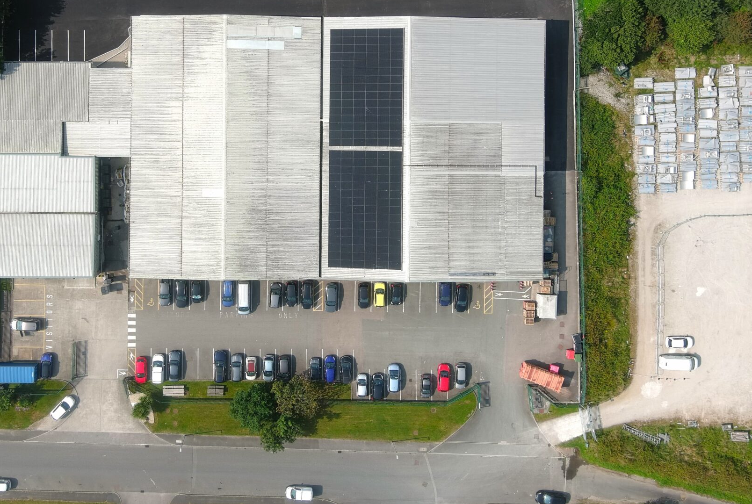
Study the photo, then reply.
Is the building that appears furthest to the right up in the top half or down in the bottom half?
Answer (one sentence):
You can find the building that appears furthest to the right in the top half.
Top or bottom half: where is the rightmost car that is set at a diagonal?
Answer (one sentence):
The bottom half of the photo is where the rightmost car that is set at a diagonal is.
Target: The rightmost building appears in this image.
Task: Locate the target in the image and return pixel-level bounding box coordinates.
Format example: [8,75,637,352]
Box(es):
[319,15,547,283]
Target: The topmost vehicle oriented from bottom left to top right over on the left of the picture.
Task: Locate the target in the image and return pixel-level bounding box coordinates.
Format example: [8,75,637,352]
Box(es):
[49,394,76,423]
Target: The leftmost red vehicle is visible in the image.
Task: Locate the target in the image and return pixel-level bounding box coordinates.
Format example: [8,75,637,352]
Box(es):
[133,357,147,384]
